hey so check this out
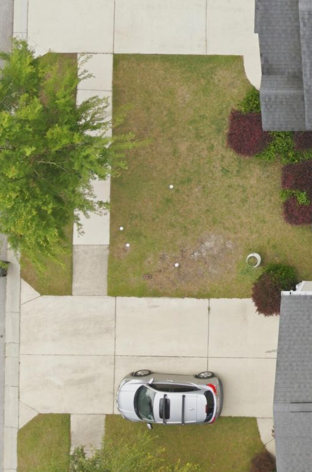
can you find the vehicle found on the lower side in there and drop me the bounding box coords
[117,371,226,431]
